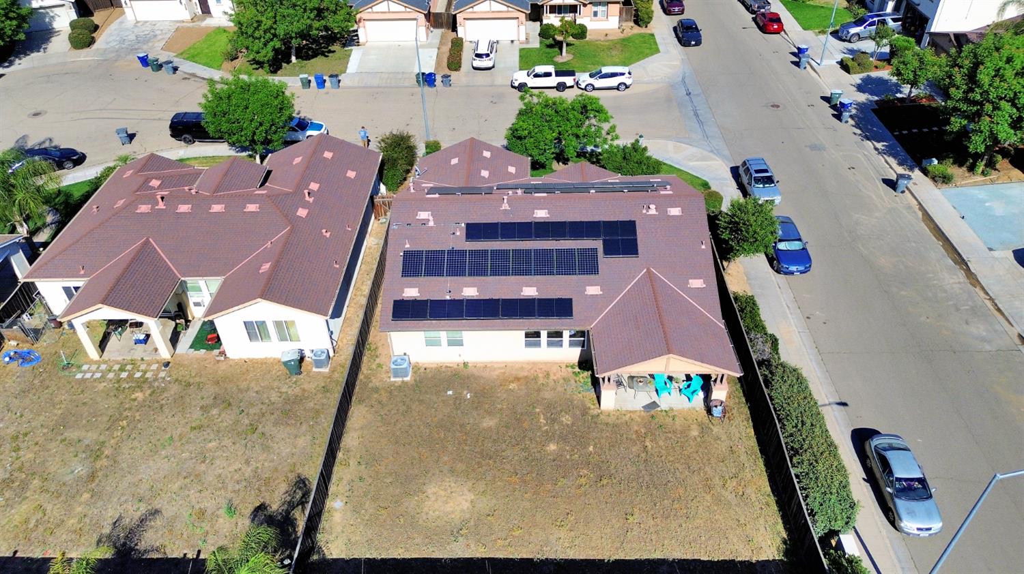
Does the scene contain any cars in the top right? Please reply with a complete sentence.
Yes, looking in the top right, one can make out a car.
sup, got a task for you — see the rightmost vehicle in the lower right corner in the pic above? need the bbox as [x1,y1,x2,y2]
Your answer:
[863,430,945,535]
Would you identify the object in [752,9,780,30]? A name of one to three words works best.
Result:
car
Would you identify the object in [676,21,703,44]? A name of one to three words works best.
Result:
car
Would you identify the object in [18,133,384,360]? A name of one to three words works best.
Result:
house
